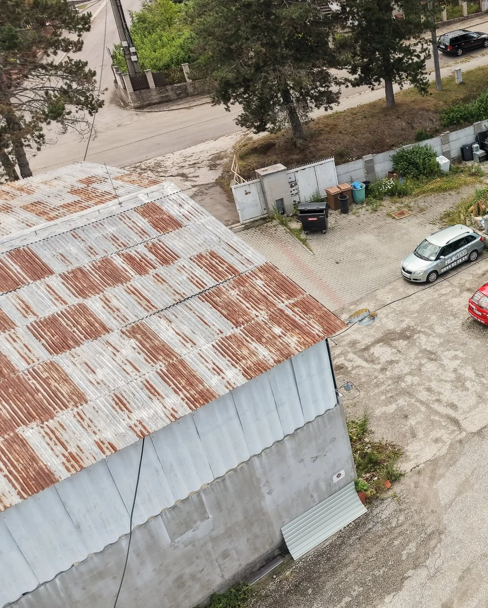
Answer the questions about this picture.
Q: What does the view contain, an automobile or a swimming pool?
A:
automobile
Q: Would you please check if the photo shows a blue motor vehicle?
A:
No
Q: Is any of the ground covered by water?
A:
No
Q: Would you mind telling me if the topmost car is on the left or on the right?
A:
right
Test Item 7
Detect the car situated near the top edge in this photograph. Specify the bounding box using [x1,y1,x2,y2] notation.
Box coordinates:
[437,27,488,55]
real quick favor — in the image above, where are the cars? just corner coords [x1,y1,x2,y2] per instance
[464,280,488,326]
[398,222,487,282]
[437,27,488,55]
